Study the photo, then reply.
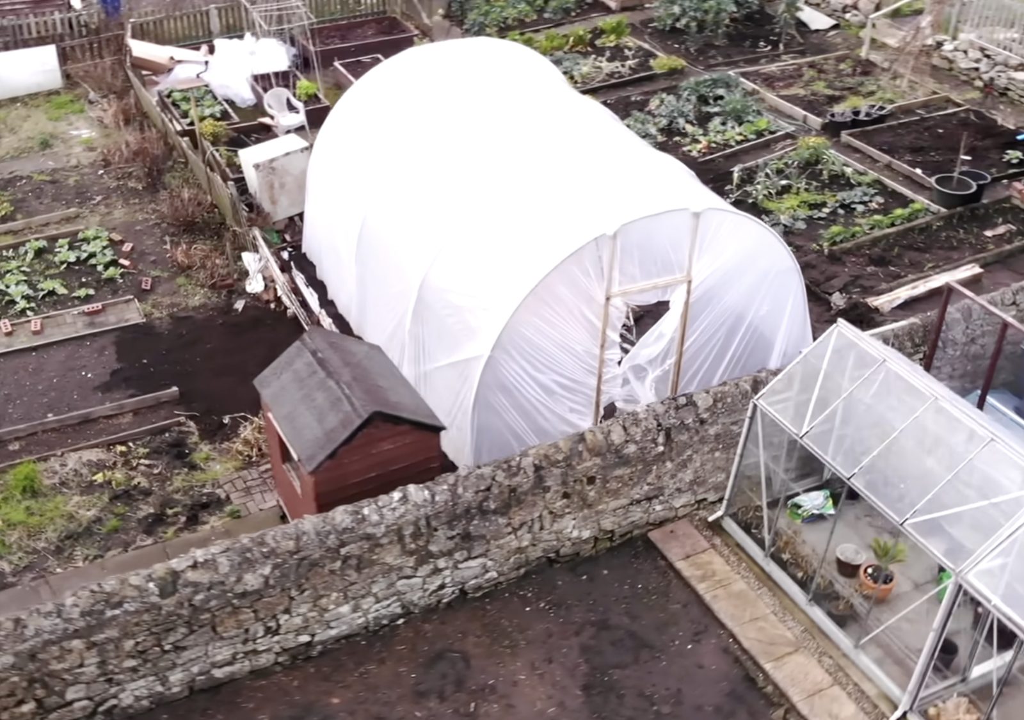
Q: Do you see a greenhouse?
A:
Yes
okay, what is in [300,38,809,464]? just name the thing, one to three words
greenhouse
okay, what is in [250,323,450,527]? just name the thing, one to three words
shed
